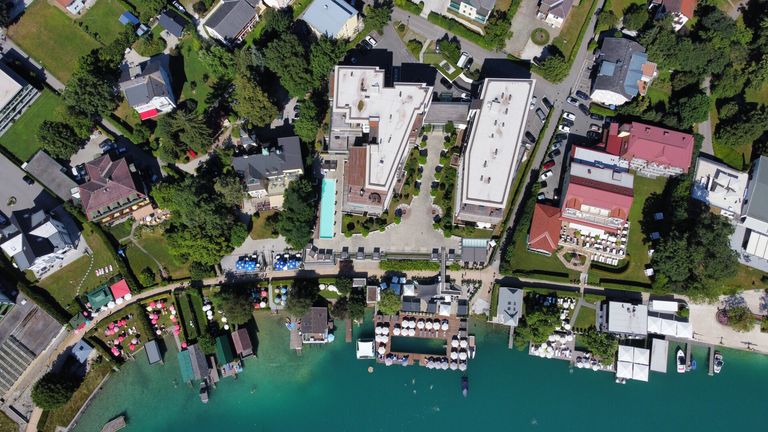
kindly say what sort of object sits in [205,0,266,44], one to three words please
house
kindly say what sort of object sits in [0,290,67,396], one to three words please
building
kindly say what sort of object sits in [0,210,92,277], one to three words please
house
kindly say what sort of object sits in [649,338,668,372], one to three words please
shed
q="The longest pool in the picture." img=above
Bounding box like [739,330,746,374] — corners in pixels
[318,177,336,238]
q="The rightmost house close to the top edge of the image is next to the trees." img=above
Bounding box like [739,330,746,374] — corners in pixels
[645,0,694,31]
